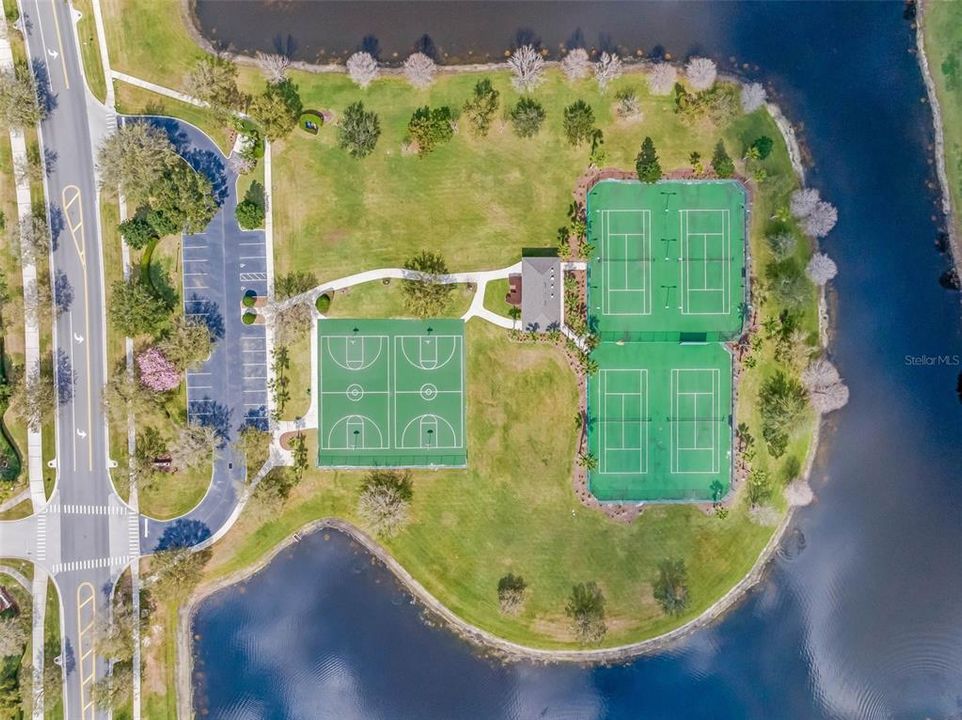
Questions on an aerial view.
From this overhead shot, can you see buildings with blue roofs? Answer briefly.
No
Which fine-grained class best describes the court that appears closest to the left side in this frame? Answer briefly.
basketball court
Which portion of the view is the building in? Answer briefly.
center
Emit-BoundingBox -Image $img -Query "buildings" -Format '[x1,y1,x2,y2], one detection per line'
[522,257,561,332]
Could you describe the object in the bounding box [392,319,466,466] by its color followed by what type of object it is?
green basketball court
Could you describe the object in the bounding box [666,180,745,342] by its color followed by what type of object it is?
green tennis court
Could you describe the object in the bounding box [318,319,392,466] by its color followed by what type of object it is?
green basketball court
